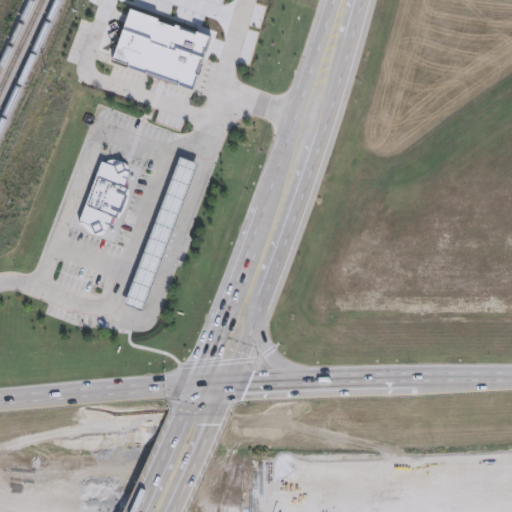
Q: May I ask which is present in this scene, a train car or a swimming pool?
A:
train car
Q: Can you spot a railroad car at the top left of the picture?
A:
Yes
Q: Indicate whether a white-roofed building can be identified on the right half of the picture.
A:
No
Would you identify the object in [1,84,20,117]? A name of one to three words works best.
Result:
rail car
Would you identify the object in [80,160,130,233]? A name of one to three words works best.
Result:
building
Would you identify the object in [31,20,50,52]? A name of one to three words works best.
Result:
rail car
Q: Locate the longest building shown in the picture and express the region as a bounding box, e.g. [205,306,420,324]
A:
[124,157,198,311]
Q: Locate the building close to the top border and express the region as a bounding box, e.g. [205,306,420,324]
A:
[112,9,212,88]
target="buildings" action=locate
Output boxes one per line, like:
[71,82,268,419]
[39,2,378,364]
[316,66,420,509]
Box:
[80,160,130,233]
[112,9,212,88]
[124,157,198,311]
